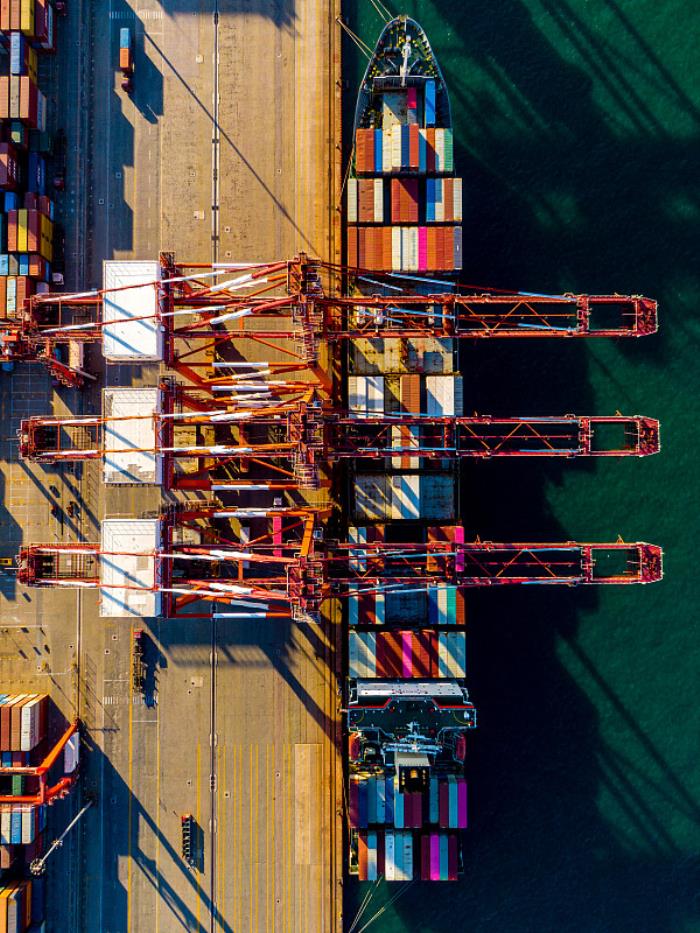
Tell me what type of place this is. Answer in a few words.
port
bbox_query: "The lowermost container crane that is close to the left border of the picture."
[0,730,78,808]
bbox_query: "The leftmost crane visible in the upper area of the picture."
[0,325,86,380]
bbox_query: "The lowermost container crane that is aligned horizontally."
[4,497,665,628]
